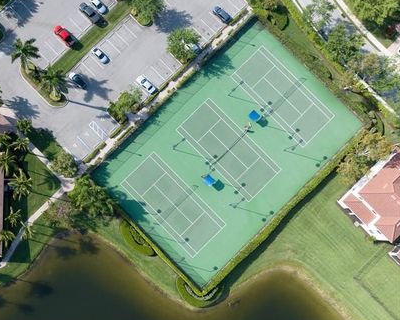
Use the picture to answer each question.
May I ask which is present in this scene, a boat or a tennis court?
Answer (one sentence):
There is a tennis court in the scene.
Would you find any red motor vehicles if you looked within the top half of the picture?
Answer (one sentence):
Yes, a red motor vehicle can be seen within the top half of the picture.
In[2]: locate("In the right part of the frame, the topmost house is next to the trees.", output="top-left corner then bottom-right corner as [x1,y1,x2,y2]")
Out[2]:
[337,152,400,242]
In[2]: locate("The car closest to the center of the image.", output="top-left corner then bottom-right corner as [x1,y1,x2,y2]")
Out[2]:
[138,77,157,94]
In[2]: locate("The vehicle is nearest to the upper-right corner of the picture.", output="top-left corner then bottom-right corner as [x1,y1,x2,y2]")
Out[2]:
[214,4,233,22]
